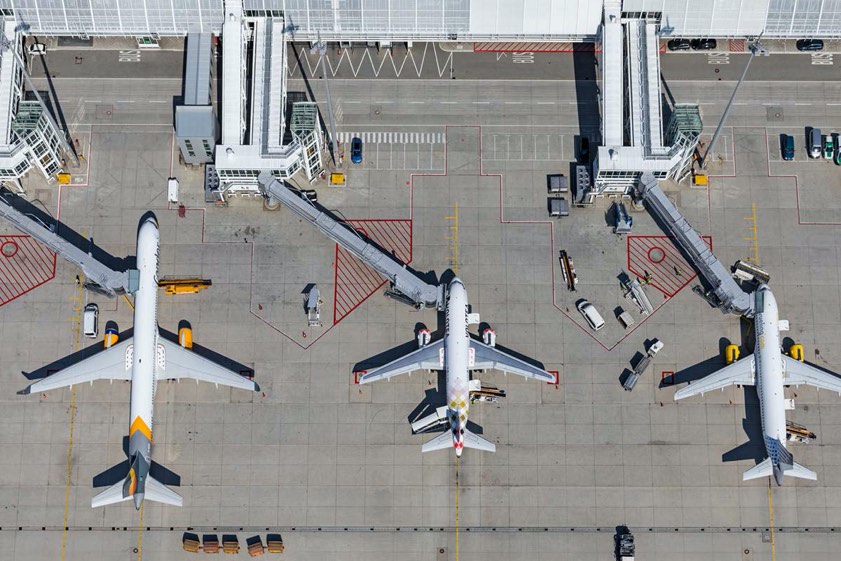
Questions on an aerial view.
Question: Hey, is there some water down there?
No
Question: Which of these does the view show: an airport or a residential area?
airport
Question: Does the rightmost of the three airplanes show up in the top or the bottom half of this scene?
bottom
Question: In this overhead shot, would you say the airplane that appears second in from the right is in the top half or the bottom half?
bottom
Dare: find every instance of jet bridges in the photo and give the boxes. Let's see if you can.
[632,173,767,317]
[0,194,141,299]
[258,173,448,312]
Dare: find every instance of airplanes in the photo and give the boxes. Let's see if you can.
[18,216,256,512]
[361,278,556,458]
[673,283,841,488]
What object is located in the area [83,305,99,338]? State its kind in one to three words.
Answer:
vehicle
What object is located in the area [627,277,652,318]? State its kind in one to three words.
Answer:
work vehicle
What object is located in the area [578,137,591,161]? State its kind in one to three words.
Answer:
vehicle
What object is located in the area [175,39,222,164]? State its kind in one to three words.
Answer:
building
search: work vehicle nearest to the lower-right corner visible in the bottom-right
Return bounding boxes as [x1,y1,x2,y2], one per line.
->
[785,425,816,442]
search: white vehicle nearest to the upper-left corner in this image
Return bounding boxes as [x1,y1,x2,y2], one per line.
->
[28,43,48,56]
